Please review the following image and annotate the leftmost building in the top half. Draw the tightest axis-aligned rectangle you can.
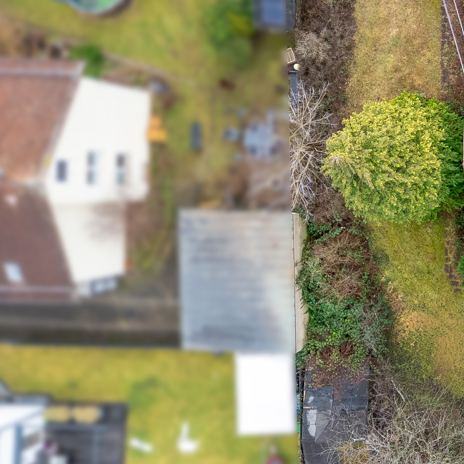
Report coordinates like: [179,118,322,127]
[0,54,147,291]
